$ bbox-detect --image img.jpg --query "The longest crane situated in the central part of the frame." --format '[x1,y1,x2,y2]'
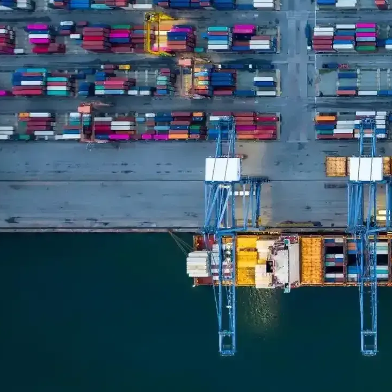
[200,116,271,358]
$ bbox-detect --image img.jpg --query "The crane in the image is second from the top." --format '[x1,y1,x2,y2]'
[177,58,210,99]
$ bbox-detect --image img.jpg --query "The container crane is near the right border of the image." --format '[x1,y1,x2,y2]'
[347,116,392,357]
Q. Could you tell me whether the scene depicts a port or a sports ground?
port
